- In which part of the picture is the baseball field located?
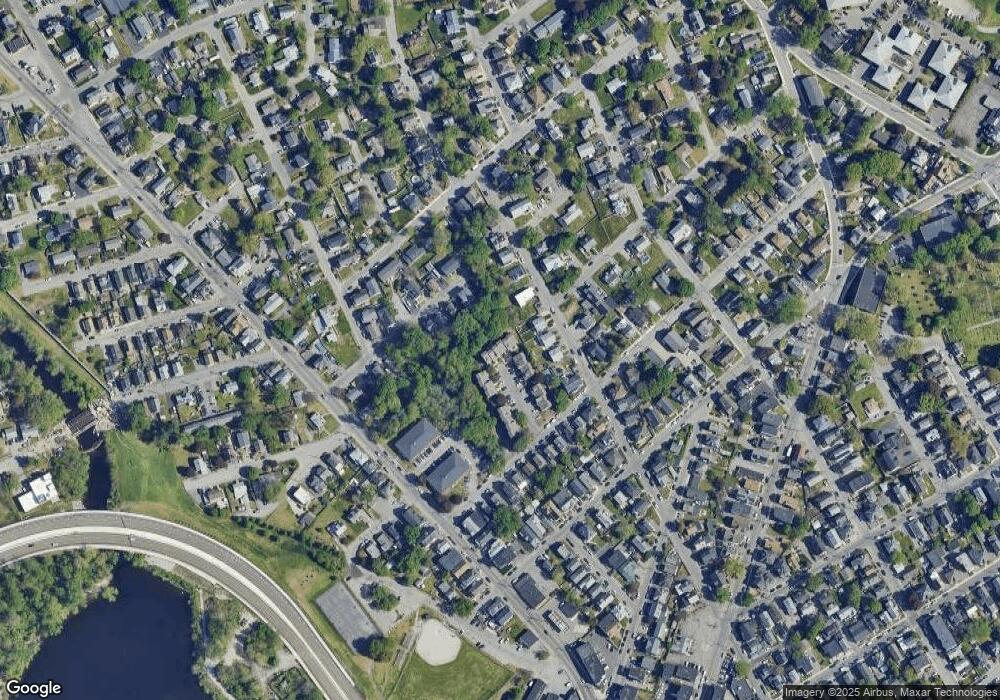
bottom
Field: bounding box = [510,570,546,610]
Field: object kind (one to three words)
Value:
building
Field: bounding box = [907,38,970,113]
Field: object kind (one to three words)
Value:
building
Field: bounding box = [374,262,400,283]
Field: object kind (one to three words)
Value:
house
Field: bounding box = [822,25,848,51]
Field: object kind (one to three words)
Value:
house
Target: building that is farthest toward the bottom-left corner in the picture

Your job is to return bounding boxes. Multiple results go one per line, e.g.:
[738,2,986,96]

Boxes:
[15,469,59,508]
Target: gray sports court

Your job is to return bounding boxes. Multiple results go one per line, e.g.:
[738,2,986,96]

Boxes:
[320,587,378,649]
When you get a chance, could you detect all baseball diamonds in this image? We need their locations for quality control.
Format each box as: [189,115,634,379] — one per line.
[396,614,513,700]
